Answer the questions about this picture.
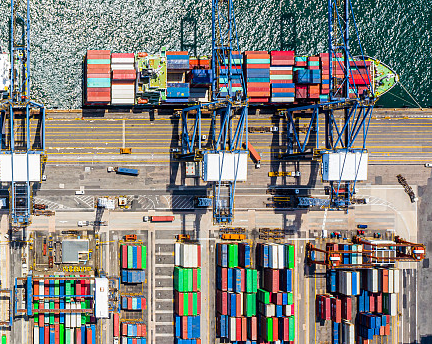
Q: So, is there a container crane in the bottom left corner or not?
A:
Yes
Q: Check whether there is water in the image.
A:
Yes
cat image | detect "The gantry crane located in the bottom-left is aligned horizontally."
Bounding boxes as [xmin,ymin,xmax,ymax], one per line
[15,267,120,317]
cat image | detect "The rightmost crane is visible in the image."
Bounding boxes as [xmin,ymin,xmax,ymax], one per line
[356,237,430,263]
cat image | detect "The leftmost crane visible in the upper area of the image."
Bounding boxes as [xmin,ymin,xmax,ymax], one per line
[0,0,49,226]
